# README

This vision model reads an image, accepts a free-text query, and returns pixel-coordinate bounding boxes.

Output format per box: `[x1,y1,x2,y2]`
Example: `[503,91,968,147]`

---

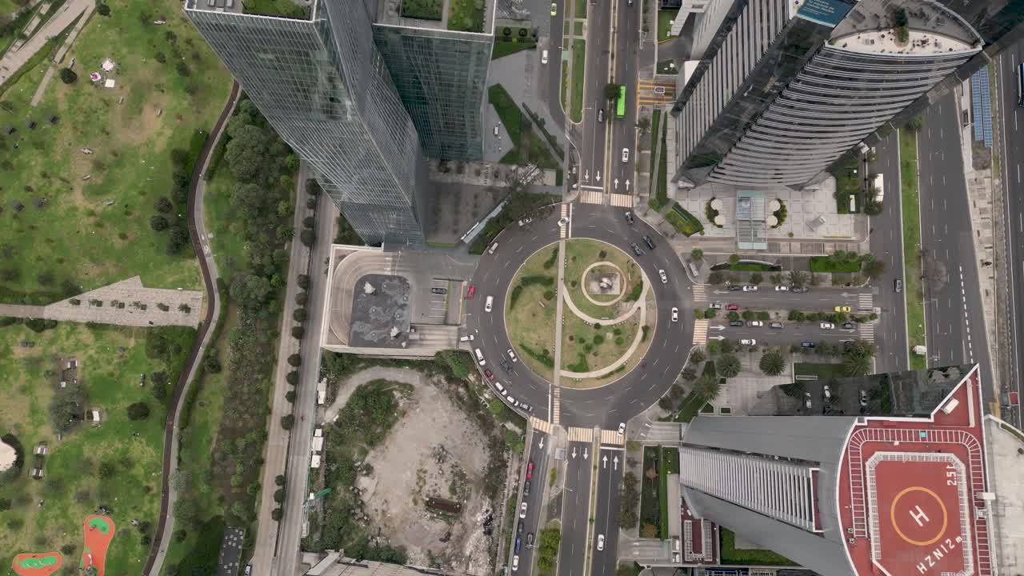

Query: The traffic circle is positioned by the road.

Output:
[459,192,708,446]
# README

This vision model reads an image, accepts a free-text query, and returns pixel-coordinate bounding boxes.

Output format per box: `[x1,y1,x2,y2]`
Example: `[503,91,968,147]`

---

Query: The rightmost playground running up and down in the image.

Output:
[79,514,115,576]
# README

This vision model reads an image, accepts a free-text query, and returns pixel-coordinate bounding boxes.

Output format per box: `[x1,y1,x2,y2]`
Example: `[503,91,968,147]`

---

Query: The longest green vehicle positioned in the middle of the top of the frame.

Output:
[614,87,627,119]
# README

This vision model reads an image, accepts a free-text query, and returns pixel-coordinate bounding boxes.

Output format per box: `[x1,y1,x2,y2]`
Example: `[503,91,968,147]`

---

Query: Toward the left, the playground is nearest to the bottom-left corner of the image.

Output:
[12,552,62,576]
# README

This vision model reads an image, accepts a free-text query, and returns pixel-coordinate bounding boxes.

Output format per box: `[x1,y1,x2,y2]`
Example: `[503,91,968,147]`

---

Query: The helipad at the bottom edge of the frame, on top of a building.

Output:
[865,453,975,576]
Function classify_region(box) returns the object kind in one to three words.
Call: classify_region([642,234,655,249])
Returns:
vehicle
